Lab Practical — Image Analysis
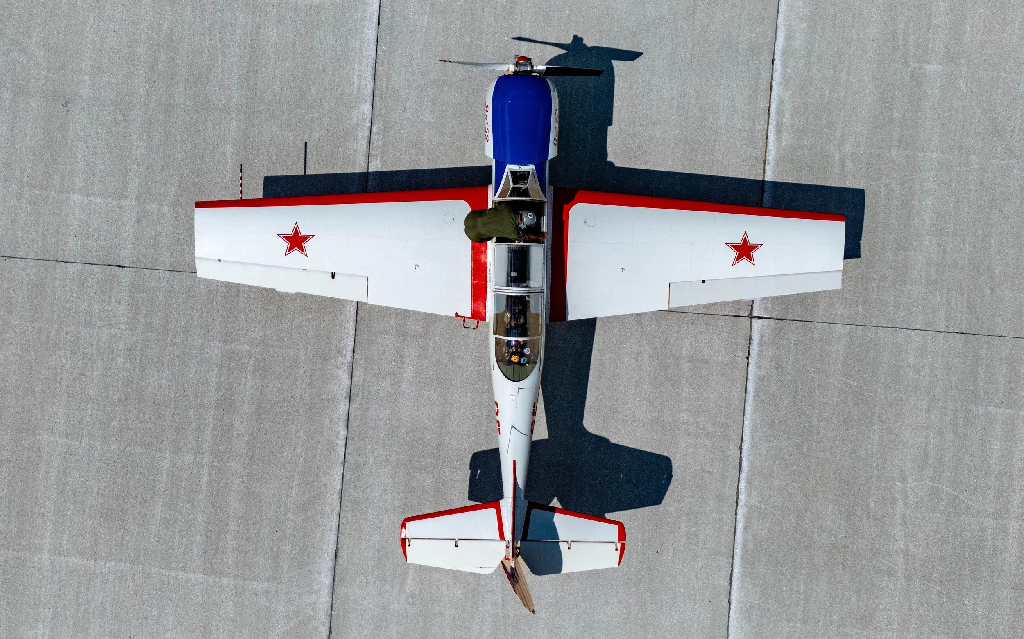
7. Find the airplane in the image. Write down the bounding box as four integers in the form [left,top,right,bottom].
[194,50,844,617]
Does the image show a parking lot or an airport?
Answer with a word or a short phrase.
airport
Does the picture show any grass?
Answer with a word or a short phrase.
No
